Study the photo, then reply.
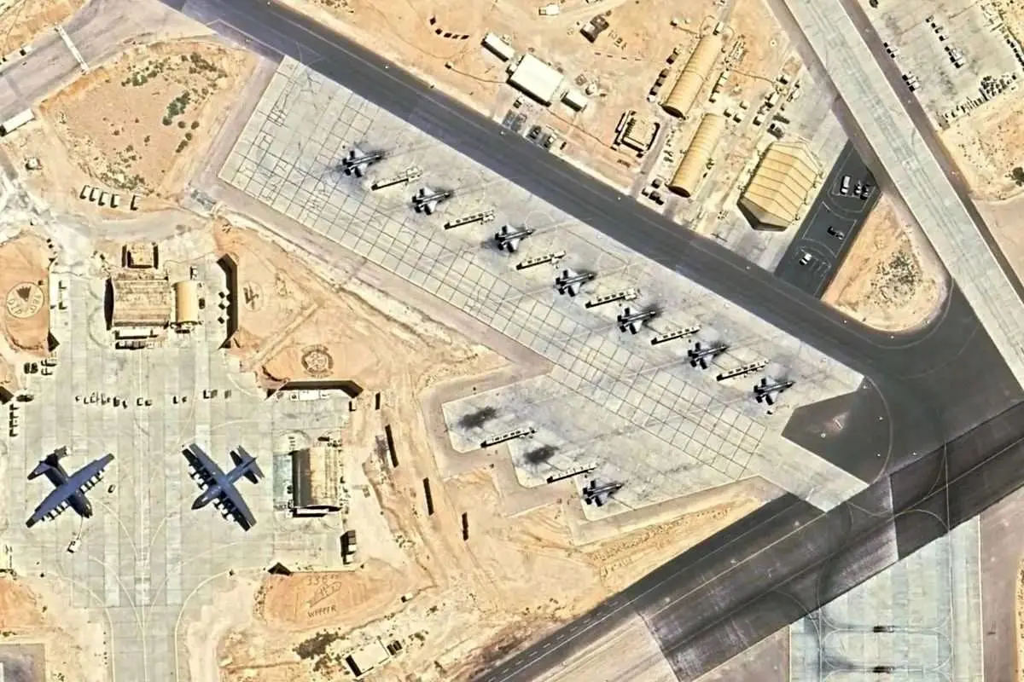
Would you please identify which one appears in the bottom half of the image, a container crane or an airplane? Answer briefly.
airplane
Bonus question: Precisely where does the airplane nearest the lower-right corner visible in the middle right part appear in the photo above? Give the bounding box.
[752,378,791,405]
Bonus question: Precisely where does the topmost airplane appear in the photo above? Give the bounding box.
[341,150,381,176]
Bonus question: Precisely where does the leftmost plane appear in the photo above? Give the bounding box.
[34,443,120,523]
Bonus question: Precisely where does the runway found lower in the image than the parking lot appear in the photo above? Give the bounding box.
[471,400,1024,682]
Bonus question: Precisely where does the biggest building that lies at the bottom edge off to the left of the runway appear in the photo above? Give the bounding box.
[350,640,389,674]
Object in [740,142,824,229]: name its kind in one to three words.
hangar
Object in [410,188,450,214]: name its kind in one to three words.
airplane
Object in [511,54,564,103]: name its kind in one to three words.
shed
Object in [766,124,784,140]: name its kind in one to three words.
vehicle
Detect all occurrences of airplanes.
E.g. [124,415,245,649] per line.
[616,308,656,334]
[341,150,381,176]
[34,443,120,523]
[752,378,791,405]
[582,479,621,506]
[555,270,594,296]
[686,342,725,369]
[410,188,450,214]
[183,444,267,529]
[493,225,533,252]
